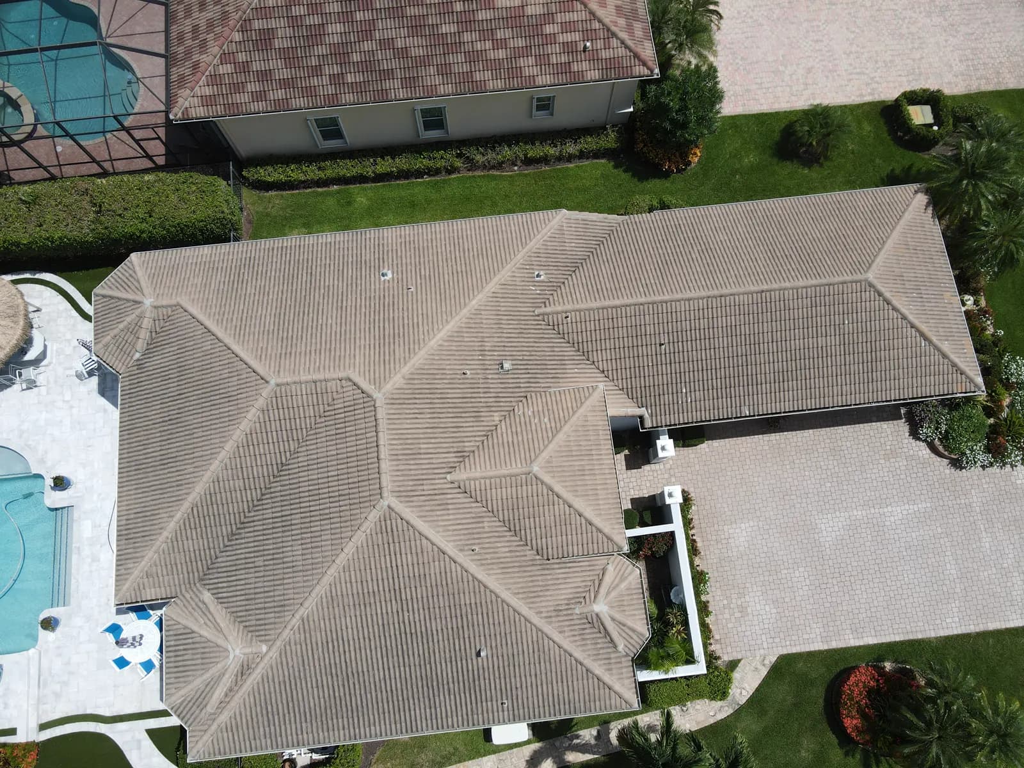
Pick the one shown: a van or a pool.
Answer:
pool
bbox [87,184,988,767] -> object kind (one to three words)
house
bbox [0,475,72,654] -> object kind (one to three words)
swimming pool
